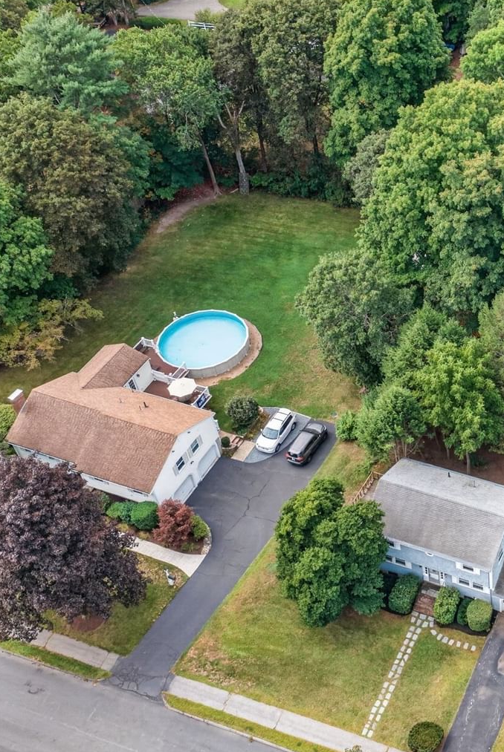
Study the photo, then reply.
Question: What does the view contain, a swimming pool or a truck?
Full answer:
There is a swimming pool in the scene.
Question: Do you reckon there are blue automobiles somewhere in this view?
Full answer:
No, there appears to be no blue automobile in this shot.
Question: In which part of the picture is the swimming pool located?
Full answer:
The swimming pool appears toward the center of the photo.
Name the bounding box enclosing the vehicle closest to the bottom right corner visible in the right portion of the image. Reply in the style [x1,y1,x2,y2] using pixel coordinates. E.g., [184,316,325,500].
[289,424,329,464]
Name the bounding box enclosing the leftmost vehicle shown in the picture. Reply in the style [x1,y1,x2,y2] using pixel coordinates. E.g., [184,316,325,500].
[257,412,296,454]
